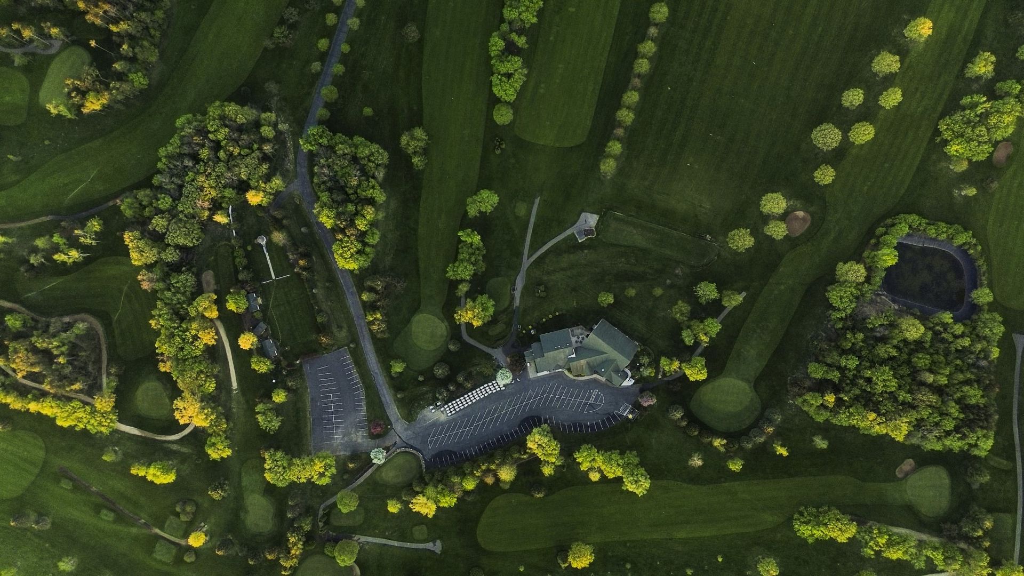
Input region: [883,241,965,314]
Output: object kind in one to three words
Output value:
pond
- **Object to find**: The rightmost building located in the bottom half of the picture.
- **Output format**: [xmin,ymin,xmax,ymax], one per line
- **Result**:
[525,318,639,387]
